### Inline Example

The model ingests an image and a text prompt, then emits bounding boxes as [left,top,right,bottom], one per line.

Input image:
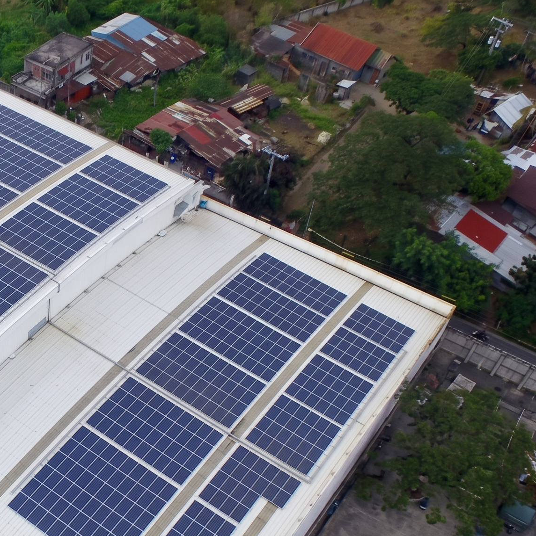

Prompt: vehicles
[472,331,490,340]
[493,500,536,528]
